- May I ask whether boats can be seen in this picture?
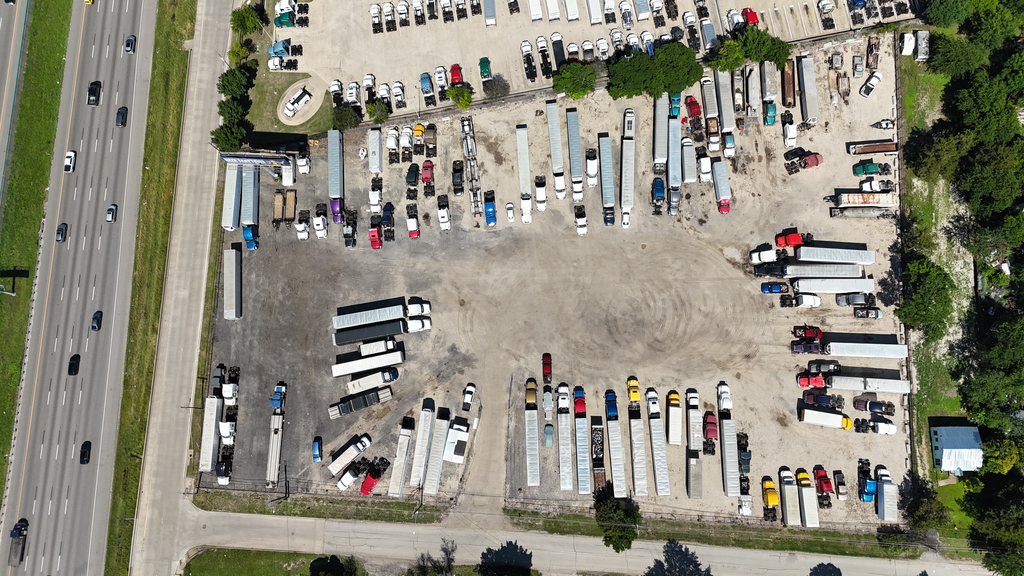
No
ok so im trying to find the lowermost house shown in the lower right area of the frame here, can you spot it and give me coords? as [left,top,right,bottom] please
[930,426,983,481]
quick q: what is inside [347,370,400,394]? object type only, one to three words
truck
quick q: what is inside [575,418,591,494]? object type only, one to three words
trailer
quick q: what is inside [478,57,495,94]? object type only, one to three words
vehicle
